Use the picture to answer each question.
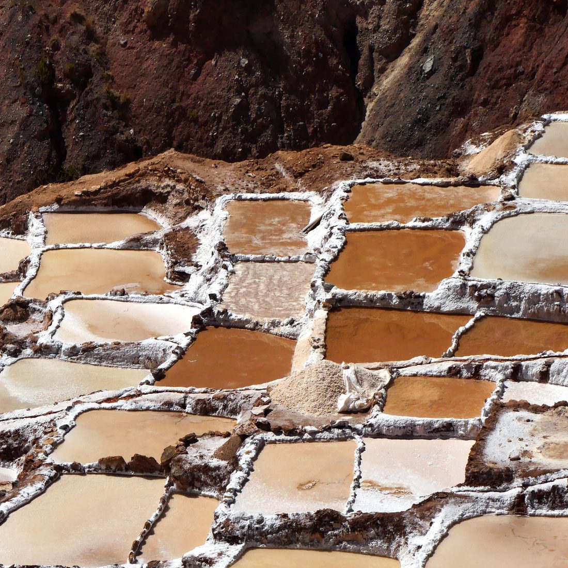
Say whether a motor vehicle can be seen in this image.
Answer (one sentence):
No, the frame has no motor vehicle in it.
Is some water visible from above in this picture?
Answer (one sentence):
Yes, water can be seen from above here.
